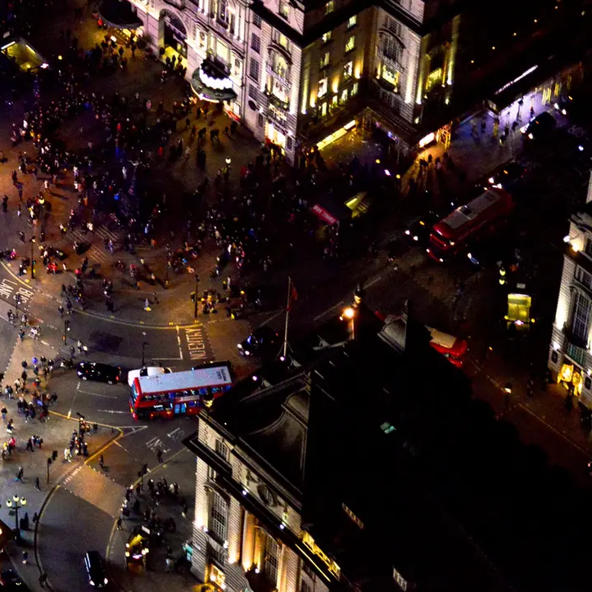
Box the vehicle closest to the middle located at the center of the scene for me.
[242,327,283,355]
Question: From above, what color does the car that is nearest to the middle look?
black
